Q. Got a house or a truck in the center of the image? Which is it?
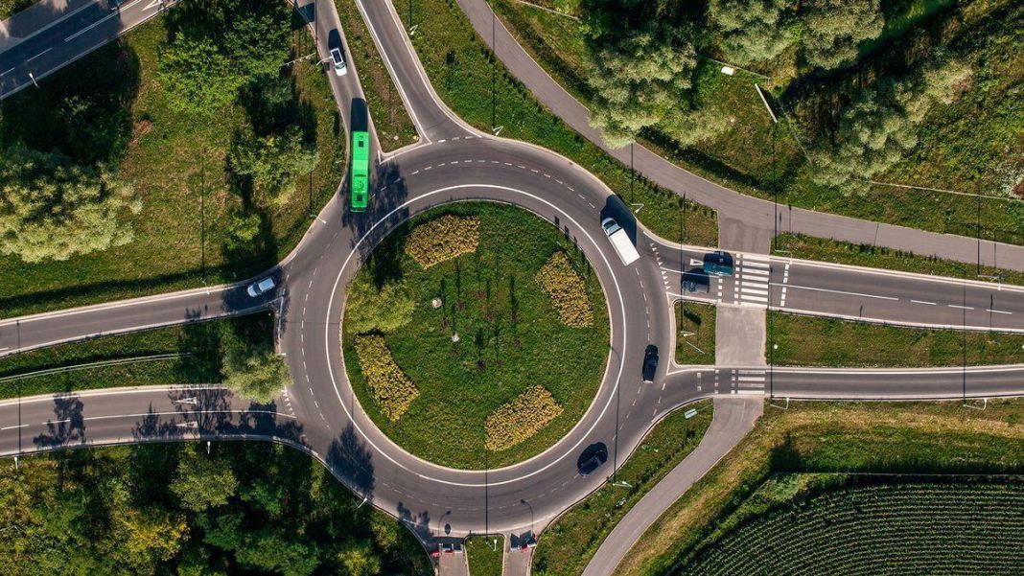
truck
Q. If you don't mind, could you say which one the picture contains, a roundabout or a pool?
roundabout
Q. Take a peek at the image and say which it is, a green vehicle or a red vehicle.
green vehicle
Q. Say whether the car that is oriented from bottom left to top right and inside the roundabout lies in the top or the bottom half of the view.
bottom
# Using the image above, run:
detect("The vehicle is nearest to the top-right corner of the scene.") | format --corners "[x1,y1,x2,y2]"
[703,260,733,275]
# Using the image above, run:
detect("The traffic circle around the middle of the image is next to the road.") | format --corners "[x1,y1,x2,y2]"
[282,137,670,532]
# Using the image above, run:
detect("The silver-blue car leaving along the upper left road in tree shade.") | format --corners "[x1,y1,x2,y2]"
[246,275,277,297]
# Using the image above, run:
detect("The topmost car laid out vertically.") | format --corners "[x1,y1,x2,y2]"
[329,46,347,77]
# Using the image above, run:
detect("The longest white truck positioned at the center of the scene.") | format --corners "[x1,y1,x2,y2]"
[601,216,640,266]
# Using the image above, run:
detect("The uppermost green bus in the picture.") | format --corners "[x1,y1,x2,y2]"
[349,131,369,215]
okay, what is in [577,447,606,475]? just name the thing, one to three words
car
